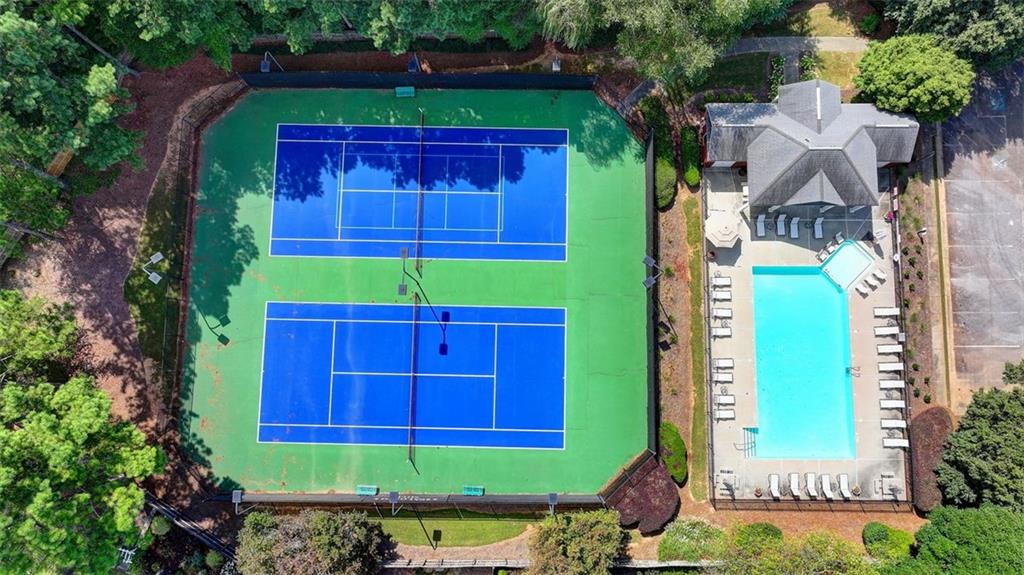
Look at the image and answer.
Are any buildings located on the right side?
Yes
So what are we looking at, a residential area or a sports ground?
sports ground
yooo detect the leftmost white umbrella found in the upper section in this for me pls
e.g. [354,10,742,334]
[705,213,740,247]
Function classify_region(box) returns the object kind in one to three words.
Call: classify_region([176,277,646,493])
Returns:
tennis court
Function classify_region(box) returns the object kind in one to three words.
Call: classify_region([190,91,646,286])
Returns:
tennis court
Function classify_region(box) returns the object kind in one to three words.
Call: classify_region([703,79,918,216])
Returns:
building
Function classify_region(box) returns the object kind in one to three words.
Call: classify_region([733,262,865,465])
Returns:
swimming pool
